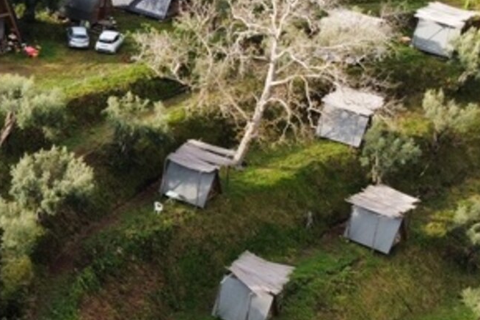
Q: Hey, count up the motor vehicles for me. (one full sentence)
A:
The count of motor vehicles comes to 2.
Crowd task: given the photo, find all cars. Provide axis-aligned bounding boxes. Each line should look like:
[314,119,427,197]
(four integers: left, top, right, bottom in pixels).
[65,21,92,51]
[88,22,129,58]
